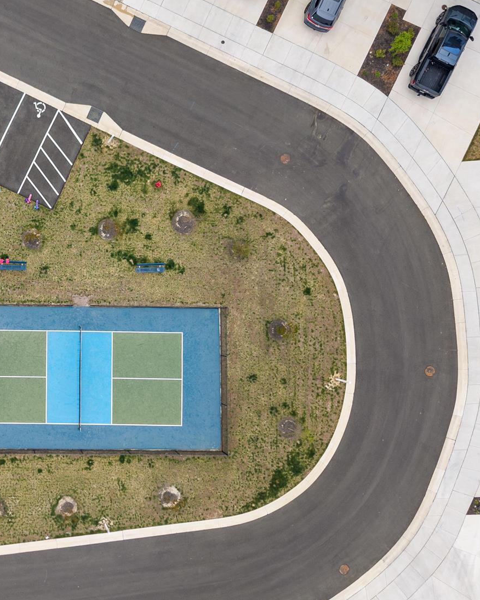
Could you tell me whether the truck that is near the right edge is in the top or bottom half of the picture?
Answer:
top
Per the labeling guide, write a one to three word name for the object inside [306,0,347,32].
car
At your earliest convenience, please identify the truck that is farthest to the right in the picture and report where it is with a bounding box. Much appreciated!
[405,1,478,100]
